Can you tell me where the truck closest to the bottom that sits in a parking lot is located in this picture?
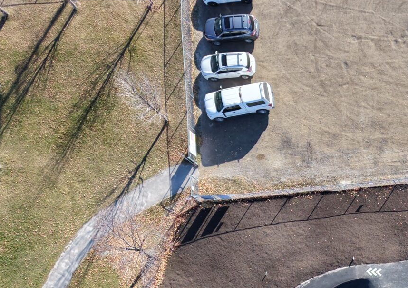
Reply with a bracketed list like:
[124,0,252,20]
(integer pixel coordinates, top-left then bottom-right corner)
[202,80,275,121]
